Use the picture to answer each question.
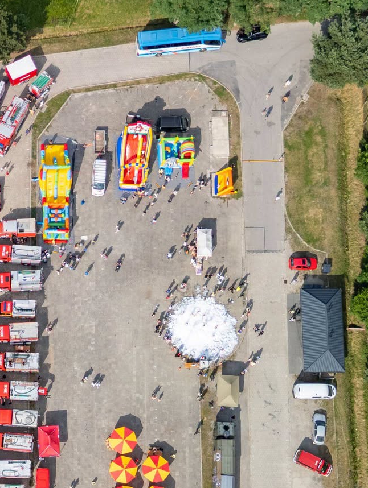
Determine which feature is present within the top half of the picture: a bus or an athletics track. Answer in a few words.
bus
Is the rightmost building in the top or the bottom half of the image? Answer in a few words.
bottom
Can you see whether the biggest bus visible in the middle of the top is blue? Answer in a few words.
Yes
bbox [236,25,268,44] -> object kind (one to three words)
car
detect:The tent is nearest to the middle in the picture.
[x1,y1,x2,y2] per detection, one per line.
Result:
[195,229,212,260]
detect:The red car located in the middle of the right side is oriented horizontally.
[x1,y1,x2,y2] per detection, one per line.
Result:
[288,255,318,270]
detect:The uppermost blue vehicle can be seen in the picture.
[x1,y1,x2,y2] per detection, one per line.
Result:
[136,25,228,58]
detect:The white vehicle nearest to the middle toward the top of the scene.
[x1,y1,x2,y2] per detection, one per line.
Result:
[91,158,107,197]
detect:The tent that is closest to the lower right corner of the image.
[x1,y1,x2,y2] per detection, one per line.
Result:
[214,375,240,408]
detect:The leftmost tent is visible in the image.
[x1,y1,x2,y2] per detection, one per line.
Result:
[38,425,60,456]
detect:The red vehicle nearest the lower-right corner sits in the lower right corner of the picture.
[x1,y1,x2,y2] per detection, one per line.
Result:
[291,449,330,475]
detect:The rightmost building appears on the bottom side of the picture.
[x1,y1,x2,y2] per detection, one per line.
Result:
[297,288,343,374]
